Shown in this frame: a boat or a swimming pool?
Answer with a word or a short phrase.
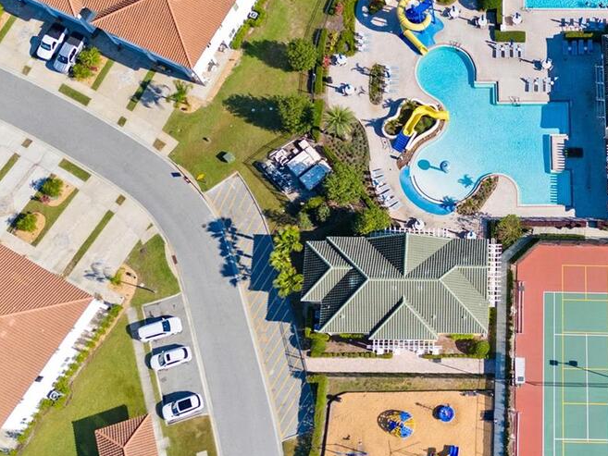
swimming pool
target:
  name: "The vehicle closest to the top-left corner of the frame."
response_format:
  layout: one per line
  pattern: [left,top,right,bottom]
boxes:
[37,22,67,61]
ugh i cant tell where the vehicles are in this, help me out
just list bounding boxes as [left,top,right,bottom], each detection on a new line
[161,395,203,420]
[138,316,182,341]
[37,22,67,61]
[149,345,192,369]
[54,36,85,74]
